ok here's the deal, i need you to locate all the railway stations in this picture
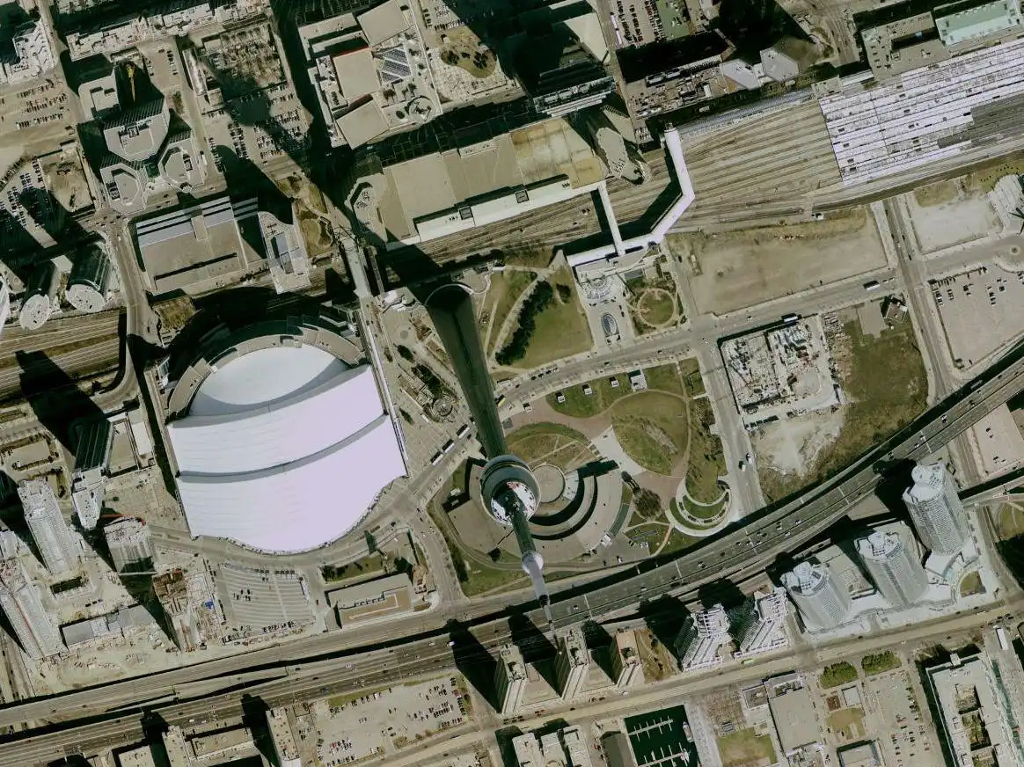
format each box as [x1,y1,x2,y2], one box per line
[821,38,1024,186]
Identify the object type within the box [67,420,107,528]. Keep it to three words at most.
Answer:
building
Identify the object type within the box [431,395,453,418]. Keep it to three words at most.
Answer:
fountain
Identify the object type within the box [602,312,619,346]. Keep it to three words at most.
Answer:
fountain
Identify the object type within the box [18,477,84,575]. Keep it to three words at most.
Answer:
building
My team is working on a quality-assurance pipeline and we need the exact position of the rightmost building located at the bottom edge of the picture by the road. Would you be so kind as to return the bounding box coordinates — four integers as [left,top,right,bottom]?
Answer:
[922,644,1024,767]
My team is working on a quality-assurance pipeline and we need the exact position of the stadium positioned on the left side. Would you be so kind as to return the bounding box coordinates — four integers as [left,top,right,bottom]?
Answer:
[143,297,412,557]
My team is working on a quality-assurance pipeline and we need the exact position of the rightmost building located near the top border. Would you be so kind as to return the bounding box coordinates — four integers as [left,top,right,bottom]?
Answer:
[930,0,1023,46]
